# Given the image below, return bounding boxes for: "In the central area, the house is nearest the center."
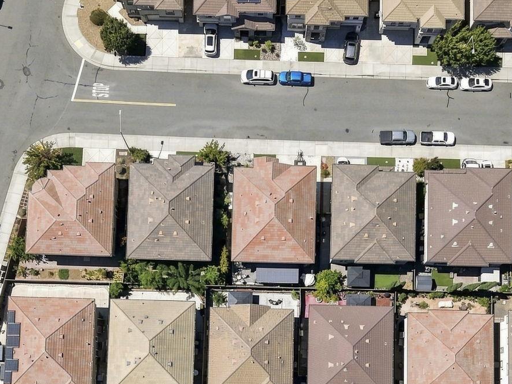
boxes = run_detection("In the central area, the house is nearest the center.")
[231,158,318,266]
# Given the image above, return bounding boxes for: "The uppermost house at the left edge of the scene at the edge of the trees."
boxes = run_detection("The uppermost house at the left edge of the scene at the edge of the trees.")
[26,161,121,259]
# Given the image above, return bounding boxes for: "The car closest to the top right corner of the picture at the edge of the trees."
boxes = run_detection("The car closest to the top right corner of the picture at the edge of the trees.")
[460,78,491,93]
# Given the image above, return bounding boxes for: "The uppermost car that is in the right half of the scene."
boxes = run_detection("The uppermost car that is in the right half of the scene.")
[344,34,360,65]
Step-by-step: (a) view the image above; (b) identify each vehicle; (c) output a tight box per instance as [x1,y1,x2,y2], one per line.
[336,152,351,164]
[418,131,456,146]
[203,26,218,57]
[277,71,315,87]
[479,155,495,167]
[426,75,457,92]
[378,130,416,146]
[241,70,273,86]
[463,153,478,171]
[460,78,491,93]
[344,34,360,65]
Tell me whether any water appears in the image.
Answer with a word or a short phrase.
No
